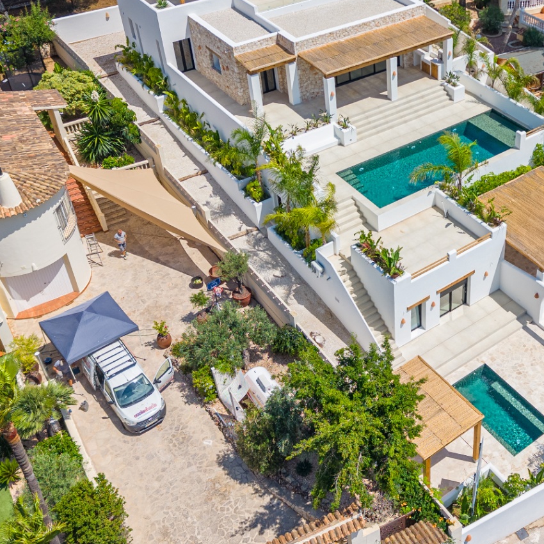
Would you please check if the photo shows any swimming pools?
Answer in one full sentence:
Yes, I can see a swimming pool in this picture.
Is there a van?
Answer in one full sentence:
Yes, looking at the shot, I can spot a van.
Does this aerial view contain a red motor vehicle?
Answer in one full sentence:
No, I find no red motor vehicle anywhere in the image.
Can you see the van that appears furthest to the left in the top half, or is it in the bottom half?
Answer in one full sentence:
Seen from above, the van that appears furthest to the left lies in the bottom half of the view.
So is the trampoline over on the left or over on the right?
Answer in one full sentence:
The trampoline is on the left side of the image.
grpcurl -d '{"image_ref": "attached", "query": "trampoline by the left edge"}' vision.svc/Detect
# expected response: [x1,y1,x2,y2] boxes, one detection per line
[0,42,51,91]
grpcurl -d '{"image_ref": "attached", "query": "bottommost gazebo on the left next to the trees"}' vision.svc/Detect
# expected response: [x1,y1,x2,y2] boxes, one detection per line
[38,292,149,393]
